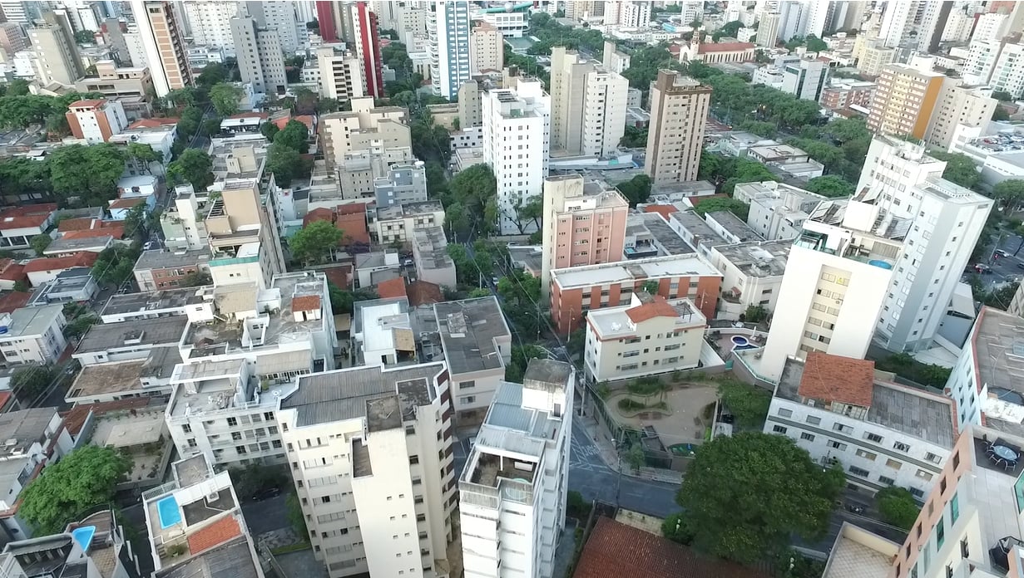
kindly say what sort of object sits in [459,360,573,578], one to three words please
building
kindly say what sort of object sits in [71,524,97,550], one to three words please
swimming pool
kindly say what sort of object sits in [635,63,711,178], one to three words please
building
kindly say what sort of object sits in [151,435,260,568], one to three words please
house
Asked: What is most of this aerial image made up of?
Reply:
buildings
